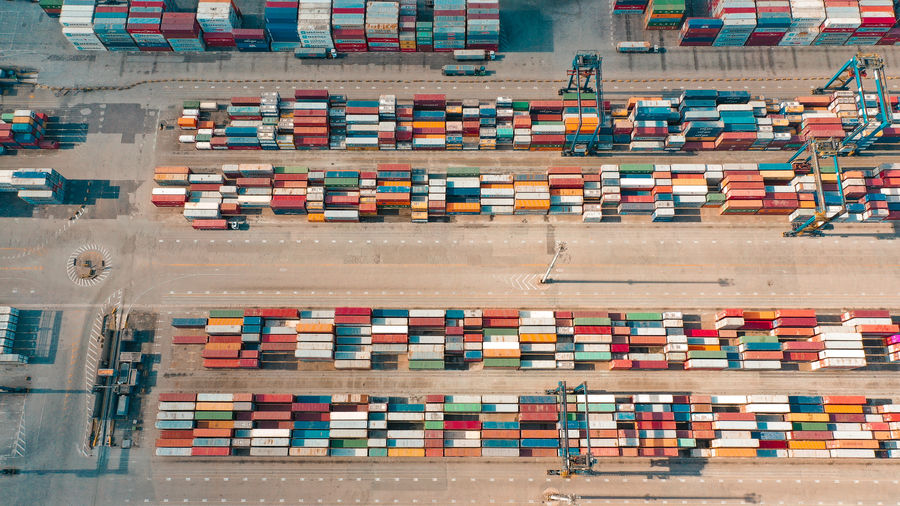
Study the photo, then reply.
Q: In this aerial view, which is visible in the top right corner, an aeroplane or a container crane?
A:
container crane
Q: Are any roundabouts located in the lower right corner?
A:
No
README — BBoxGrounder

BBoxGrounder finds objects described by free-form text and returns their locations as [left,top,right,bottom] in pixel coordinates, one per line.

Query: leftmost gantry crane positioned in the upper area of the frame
[560,54,603,155]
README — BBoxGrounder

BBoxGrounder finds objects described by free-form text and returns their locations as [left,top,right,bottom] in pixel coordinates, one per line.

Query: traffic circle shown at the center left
[68,243,112,286]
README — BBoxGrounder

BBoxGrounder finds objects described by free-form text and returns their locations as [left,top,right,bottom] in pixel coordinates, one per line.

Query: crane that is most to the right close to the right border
[821,57,892,155]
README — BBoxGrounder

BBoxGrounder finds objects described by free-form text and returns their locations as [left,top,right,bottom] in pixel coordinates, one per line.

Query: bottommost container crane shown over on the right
[546,379,592,475]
